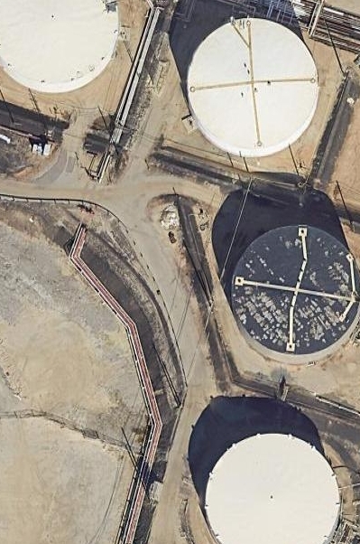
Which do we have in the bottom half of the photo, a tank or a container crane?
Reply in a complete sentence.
It is a tank that can be seen in the bottom half of the photo.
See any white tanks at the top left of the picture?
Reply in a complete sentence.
Yes, looking at the top left of the picture, one can make out a white tank.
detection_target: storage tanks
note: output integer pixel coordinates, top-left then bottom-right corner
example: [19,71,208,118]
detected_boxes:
[199,432,343,544]
[226,225,360,366]
[182,17,320,159]
[0,0,122,101]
